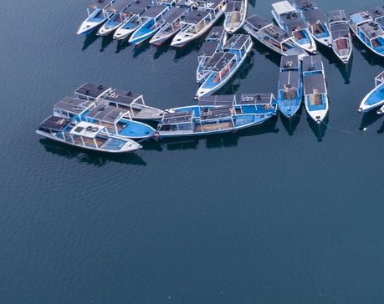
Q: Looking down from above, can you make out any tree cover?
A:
No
